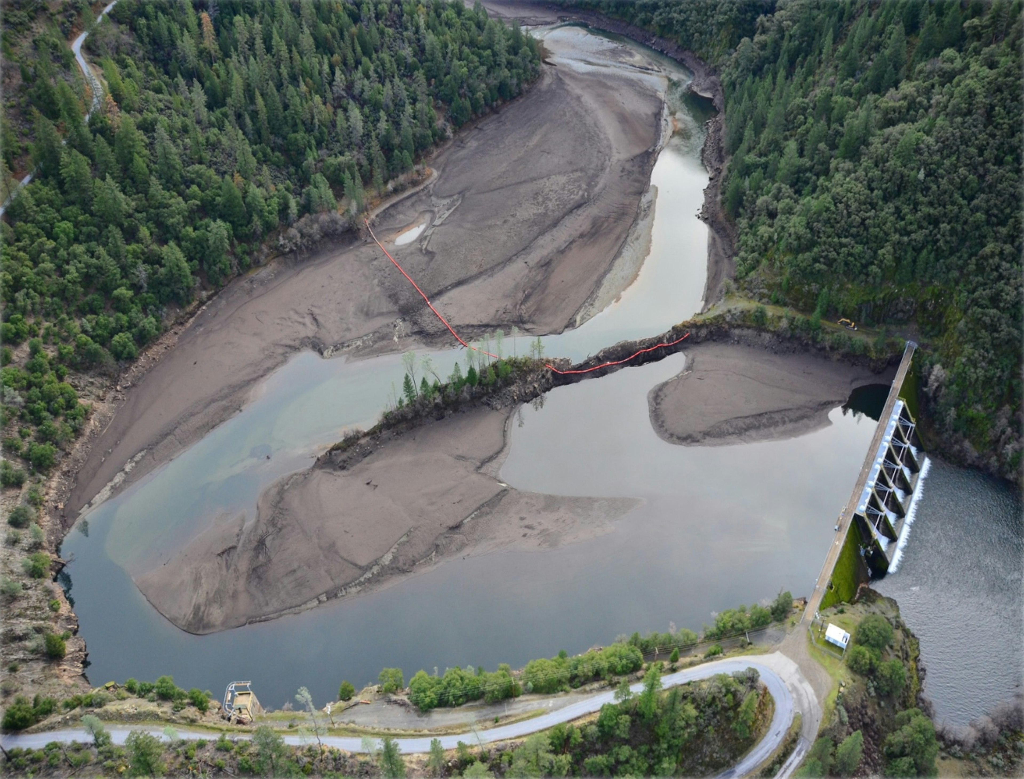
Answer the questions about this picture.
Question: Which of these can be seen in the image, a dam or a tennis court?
dam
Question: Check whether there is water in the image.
Yes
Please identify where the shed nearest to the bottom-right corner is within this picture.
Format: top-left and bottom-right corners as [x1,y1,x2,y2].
[825,627,851,652]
